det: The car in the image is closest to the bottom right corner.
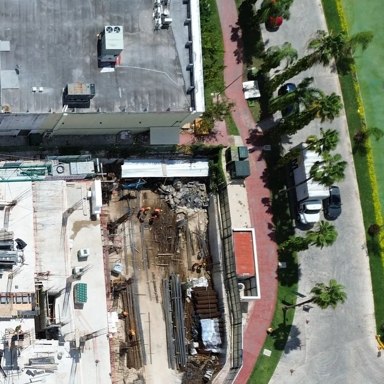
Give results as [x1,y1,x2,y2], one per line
[323,188,342,221]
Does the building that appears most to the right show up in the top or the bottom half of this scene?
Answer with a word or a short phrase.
bottom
